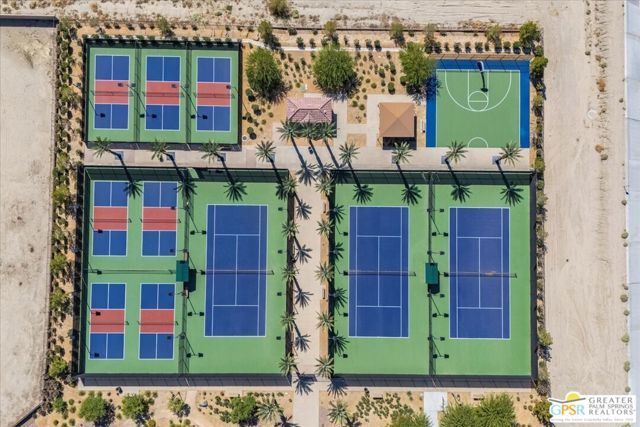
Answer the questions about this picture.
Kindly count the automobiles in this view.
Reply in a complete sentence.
The photo contains no automobiles.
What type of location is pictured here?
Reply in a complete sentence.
The picture captures a sports ground.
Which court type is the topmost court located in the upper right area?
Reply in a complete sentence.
Specifically, the topmost court located in the upper right area is a basketball court.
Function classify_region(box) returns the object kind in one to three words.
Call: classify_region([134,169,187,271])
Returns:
sports court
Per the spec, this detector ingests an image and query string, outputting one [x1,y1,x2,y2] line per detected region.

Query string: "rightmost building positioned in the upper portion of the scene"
[379,103,415,138]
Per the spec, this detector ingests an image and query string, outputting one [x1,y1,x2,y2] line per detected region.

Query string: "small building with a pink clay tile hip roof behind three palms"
[288,98,332,124]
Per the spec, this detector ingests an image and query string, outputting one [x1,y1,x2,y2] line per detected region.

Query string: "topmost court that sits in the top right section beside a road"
[426,59,530,148]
